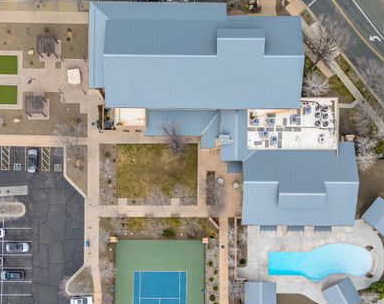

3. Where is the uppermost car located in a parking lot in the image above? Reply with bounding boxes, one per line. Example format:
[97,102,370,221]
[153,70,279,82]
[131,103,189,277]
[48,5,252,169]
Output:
[26,149,38,173]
